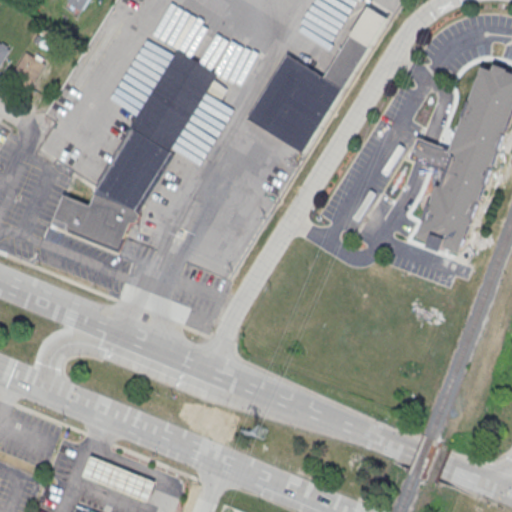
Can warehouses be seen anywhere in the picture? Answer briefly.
Yes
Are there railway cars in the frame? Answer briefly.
No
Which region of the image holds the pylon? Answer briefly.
bottom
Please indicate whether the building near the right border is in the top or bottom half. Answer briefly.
top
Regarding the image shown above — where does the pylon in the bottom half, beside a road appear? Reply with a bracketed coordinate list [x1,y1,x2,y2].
[237,424,274,443]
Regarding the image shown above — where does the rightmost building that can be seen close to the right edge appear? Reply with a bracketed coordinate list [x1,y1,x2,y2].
[412,64,512,256]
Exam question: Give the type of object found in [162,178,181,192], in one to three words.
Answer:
vehicle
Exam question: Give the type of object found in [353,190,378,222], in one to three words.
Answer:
bus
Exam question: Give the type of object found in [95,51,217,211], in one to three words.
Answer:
building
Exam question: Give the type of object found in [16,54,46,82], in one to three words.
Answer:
house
